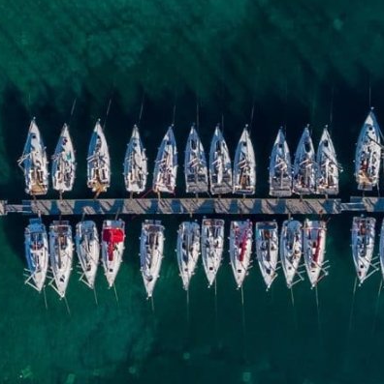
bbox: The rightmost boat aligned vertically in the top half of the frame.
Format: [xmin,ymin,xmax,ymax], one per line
[354,98,384,199]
